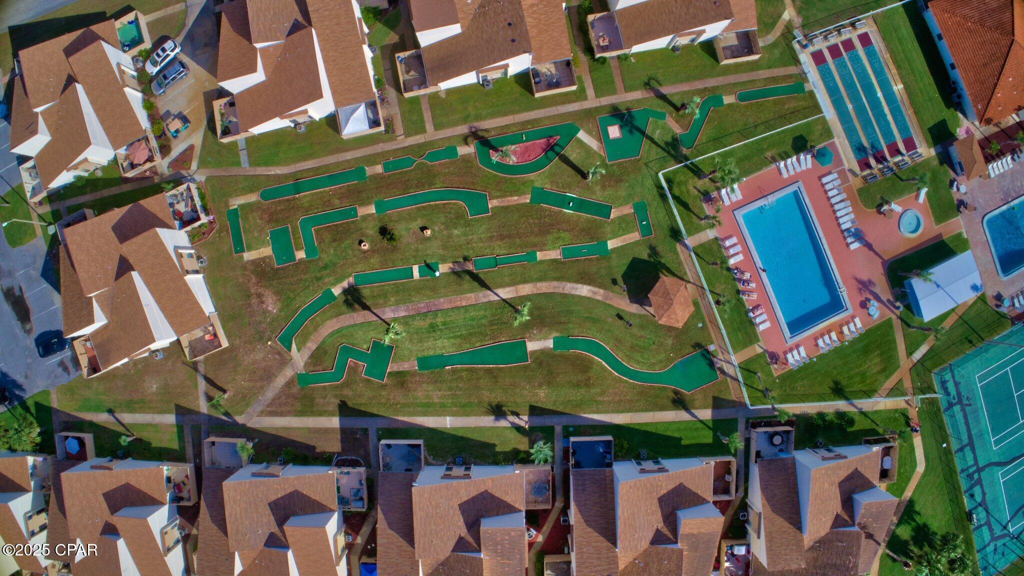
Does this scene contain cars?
Yes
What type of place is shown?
residential area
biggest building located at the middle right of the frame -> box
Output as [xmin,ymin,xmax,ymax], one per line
[899,250,984,322]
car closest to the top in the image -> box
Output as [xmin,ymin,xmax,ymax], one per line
[140,36,180,72]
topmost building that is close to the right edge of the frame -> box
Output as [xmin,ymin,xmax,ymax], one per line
[918,0,1024,126]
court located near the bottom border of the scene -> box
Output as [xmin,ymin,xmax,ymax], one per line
[999,458,1024,551]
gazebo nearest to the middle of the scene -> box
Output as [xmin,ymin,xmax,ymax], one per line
[645,276,695,328]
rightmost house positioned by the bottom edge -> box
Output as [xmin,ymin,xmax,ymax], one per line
[719,427,900,576]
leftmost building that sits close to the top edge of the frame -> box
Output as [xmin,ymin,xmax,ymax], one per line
[9,10,162,202]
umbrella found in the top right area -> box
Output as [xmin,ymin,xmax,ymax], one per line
[812,145,835,169]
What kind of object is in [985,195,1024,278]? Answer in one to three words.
swimming pool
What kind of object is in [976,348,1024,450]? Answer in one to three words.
tennis court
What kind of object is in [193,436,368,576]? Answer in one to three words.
house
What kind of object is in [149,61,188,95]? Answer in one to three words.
car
